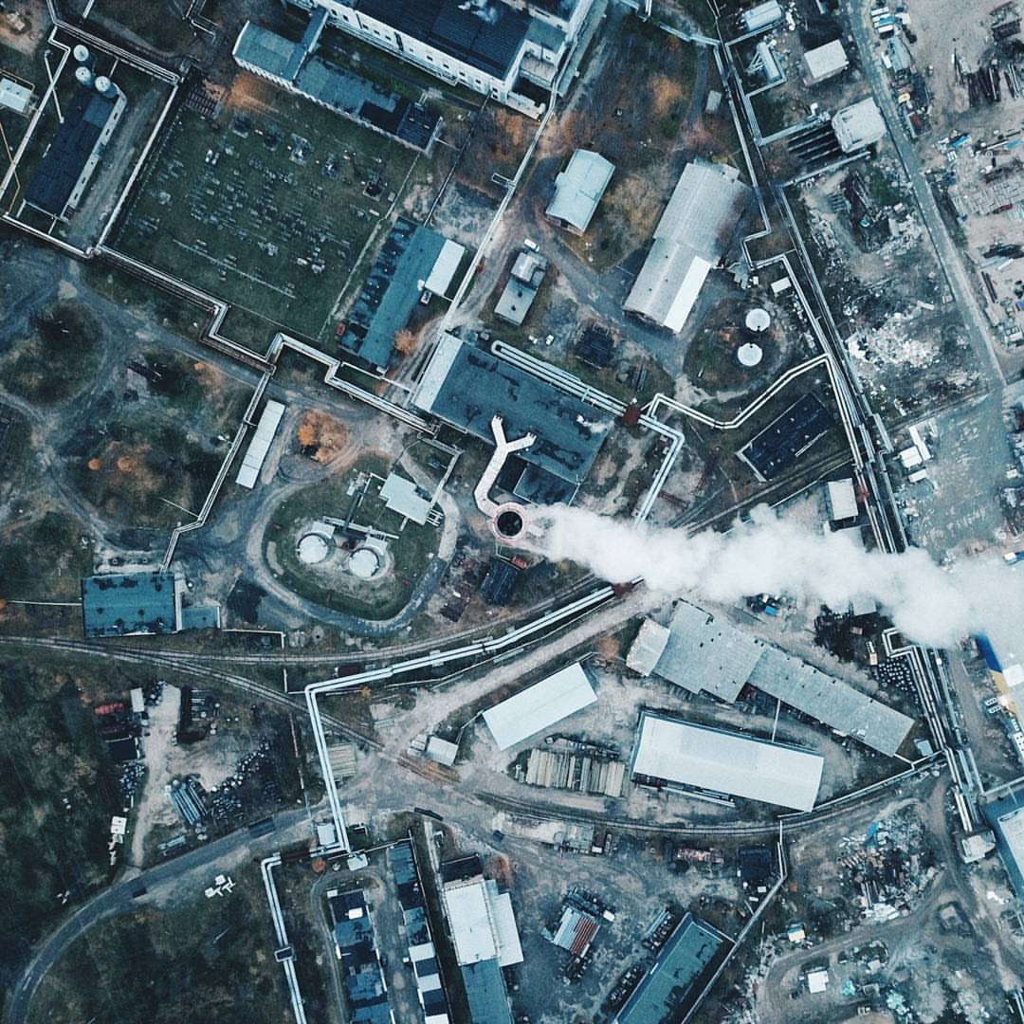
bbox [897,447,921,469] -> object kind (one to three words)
building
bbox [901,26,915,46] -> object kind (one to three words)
vehicle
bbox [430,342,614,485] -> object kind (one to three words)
house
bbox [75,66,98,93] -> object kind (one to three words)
silo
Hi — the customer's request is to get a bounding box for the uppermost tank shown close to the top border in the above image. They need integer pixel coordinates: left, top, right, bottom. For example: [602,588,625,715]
[742,0,786,33]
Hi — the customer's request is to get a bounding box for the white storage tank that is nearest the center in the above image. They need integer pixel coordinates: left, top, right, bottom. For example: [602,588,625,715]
[349,548,382,580]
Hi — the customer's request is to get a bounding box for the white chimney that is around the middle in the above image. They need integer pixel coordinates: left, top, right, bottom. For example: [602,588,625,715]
[490,503,531,544]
